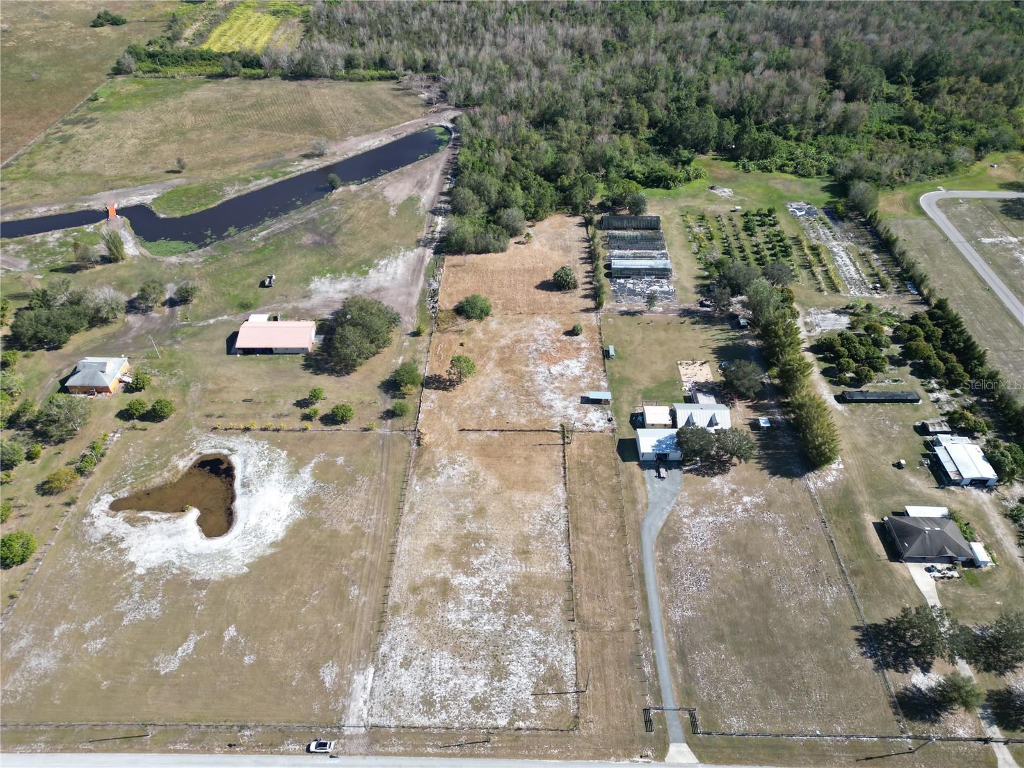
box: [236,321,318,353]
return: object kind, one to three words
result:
barn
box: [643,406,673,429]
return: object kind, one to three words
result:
shed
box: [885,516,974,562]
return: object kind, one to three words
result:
house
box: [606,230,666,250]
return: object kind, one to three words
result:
greenhouse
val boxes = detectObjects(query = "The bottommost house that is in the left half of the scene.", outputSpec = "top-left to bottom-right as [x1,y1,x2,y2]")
[64,357,129,396]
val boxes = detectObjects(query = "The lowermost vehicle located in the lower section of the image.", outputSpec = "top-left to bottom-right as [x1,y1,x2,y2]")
[309,740,335,755]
